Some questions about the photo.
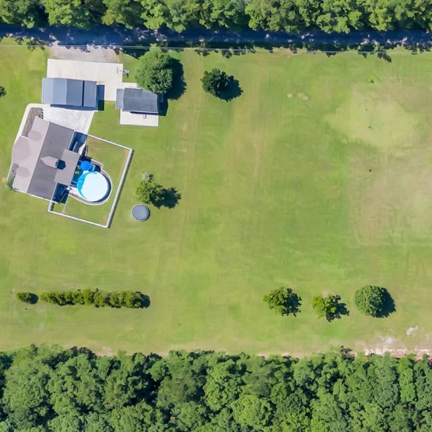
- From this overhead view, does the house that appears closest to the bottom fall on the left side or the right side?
left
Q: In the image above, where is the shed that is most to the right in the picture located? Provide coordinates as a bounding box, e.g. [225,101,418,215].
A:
[116,87,159,112]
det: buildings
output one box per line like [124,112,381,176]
[40,77,99,107]
[12,118,84,200]
[116,87,159,112]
